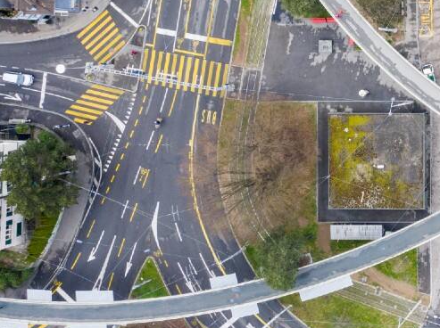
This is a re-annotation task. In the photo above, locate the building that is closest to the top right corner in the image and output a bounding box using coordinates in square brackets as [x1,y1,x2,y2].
[327,113,428,210]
